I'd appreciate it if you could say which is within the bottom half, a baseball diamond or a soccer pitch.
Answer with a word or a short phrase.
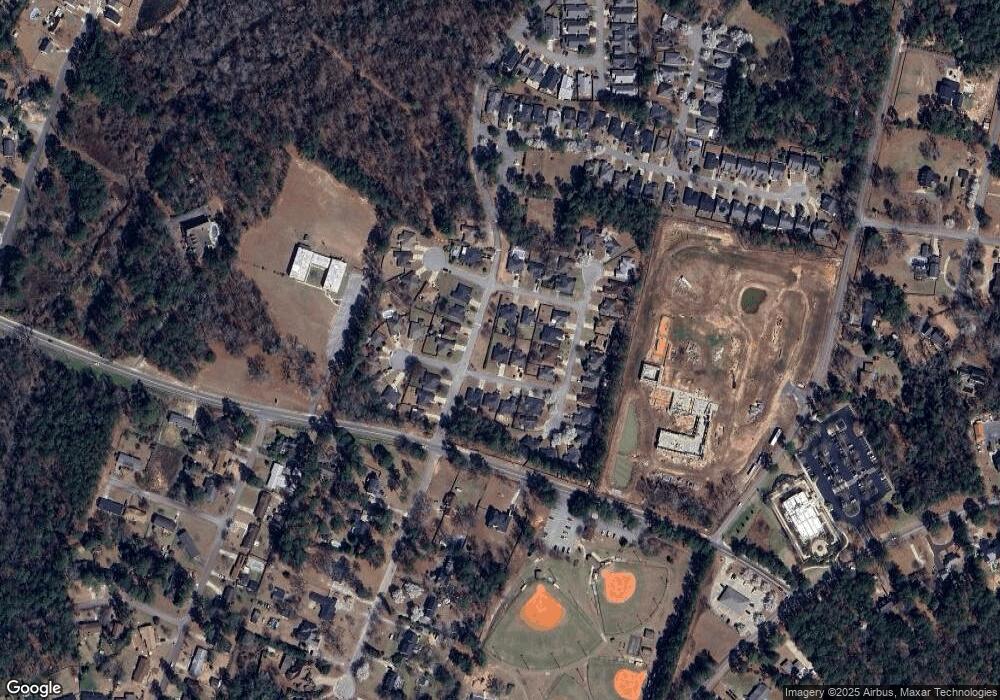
baseball diamond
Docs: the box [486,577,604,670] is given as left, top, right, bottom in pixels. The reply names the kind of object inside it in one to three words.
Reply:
baseball field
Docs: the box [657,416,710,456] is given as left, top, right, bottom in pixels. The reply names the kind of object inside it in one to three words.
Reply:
building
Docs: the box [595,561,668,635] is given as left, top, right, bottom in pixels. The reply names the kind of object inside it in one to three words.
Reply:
baseball field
